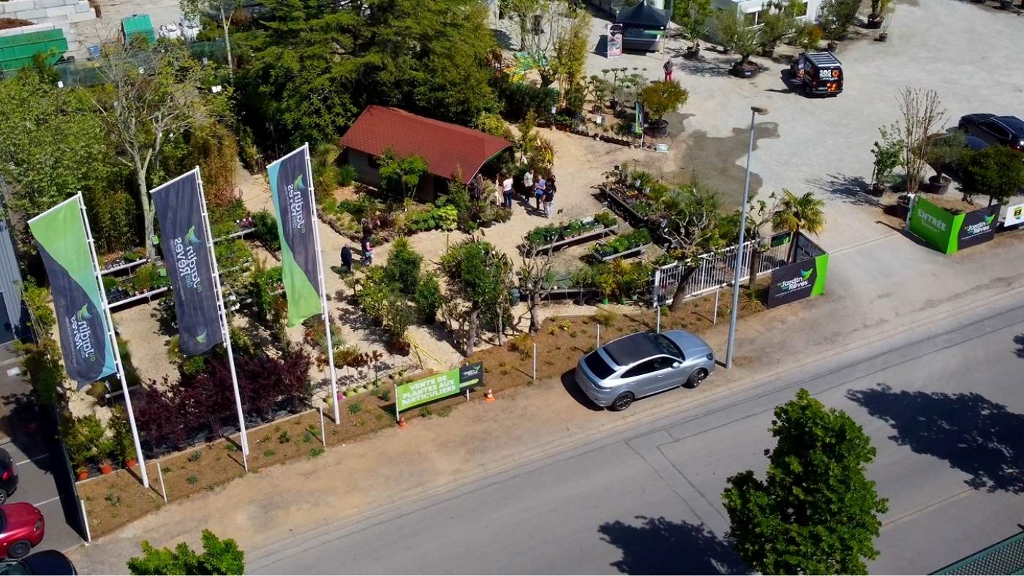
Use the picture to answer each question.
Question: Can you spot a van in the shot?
Yes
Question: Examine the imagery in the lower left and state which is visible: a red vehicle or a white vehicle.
red vehicle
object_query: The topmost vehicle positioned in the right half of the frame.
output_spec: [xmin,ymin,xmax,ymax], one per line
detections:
[790,45,845,91]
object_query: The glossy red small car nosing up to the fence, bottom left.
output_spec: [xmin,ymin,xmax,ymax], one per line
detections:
[0,508,42,555]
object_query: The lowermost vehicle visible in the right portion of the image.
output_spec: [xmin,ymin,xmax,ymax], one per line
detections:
[575,333,711,410]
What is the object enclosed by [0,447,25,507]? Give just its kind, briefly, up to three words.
car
